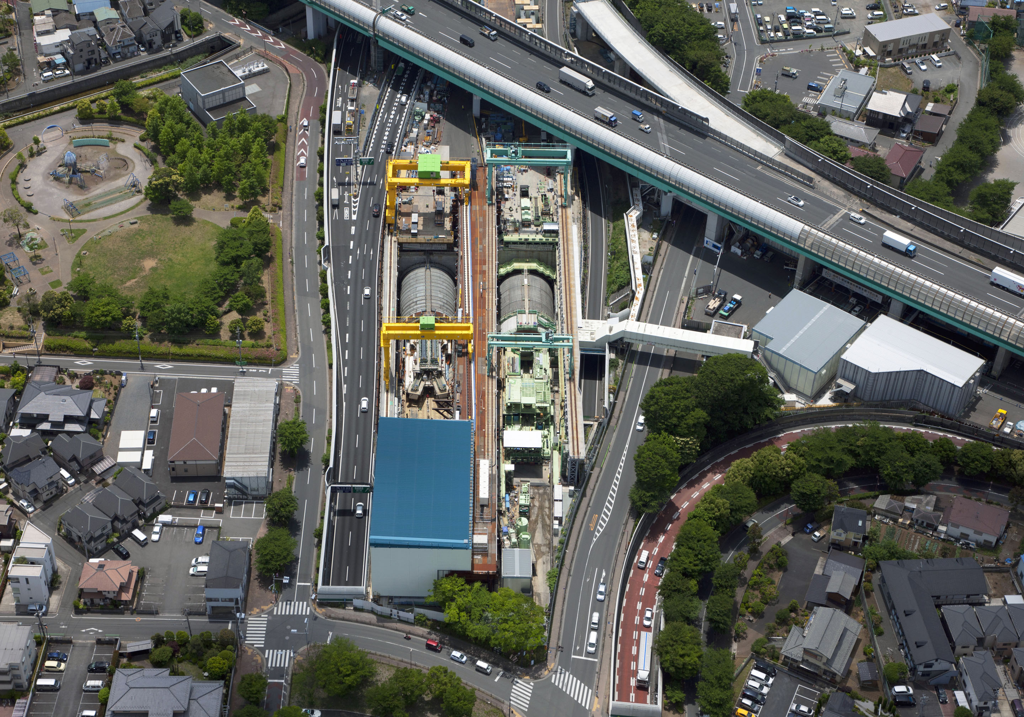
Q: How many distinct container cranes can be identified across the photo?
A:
4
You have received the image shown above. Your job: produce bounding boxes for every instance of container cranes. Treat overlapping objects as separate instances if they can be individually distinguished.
[485,138,573,211]
[379,314,476,395]
[483,312,578,383]
[379,151,474,236]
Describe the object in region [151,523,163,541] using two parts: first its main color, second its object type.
white vehicle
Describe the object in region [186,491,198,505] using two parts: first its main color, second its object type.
blue vehicle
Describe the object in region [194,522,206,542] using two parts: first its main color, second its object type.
blue vehicle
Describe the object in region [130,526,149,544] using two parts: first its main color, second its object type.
white vehicle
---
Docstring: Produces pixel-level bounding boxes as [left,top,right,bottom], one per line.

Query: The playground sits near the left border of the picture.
[17,137,155,219]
